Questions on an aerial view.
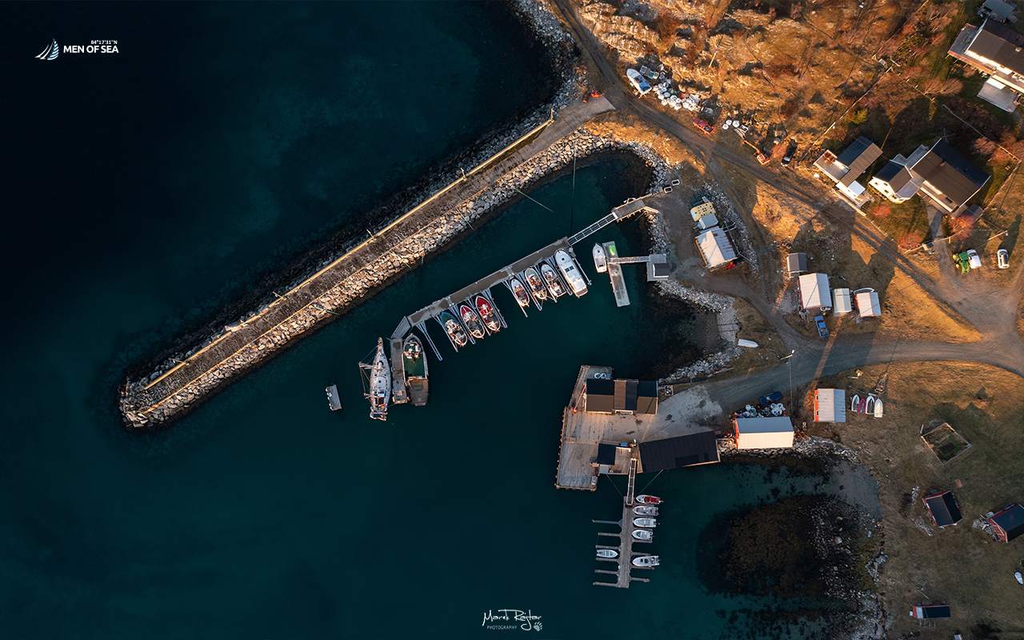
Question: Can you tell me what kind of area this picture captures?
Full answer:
It's a port.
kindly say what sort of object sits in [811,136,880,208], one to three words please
house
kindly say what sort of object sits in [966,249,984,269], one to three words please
vehicle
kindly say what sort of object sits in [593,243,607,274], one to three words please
boat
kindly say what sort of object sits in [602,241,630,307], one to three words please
pier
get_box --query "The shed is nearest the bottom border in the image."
[906,604,950,620]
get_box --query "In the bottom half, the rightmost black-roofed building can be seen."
[980,500,1024,545]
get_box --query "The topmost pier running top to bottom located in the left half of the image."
[389,339,409,404]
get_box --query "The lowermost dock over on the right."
[591,496,655,590]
